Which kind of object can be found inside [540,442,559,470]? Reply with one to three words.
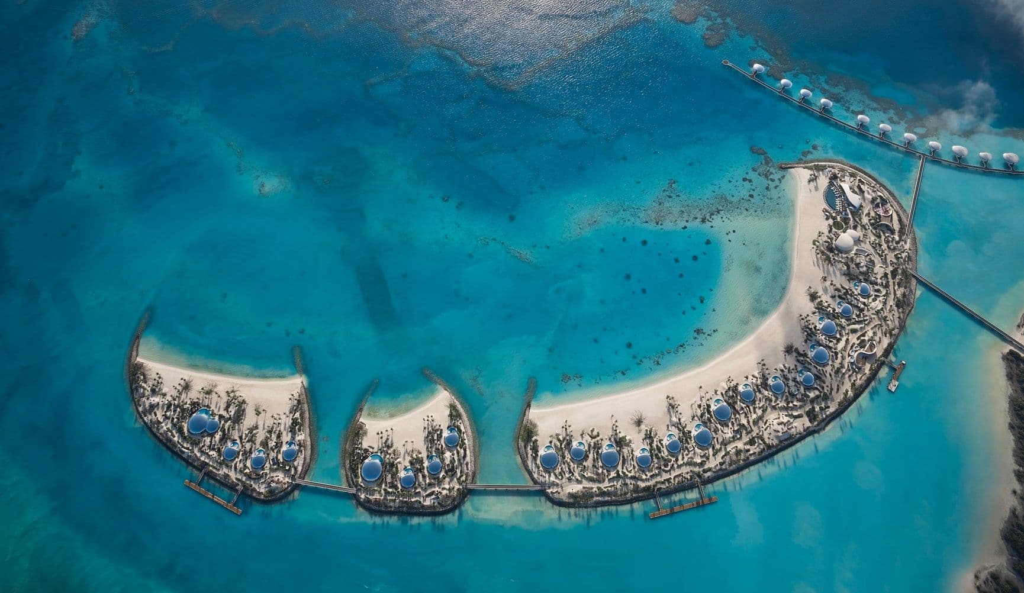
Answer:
house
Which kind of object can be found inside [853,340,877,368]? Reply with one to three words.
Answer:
building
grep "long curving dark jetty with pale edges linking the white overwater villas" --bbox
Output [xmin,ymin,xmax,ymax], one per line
[723,59,1024,175]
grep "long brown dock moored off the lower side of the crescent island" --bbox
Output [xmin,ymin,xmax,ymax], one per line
[649,481,718,518]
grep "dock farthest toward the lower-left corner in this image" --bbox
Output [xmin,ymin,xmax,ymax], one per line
[185,468,242,514]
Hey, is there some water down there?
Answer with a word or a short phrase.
Yes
